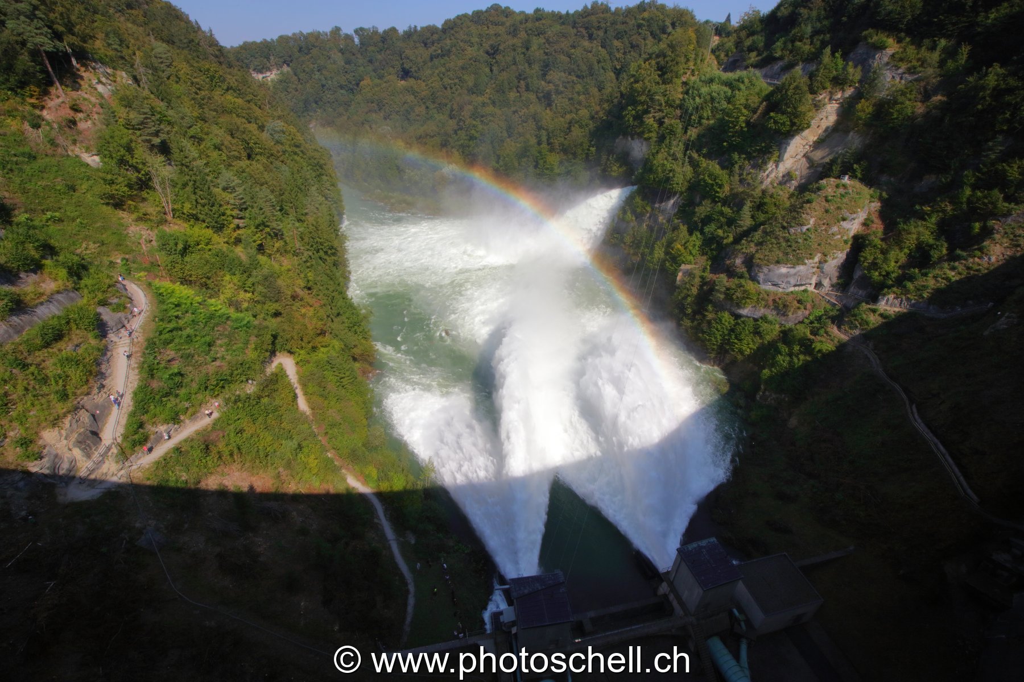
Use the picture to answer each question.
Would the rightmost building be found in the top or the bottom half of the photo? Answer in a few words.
bottom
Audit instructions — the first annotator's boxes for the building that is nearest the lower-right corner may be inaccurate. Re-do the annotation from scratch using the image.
[728,552,824,650]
